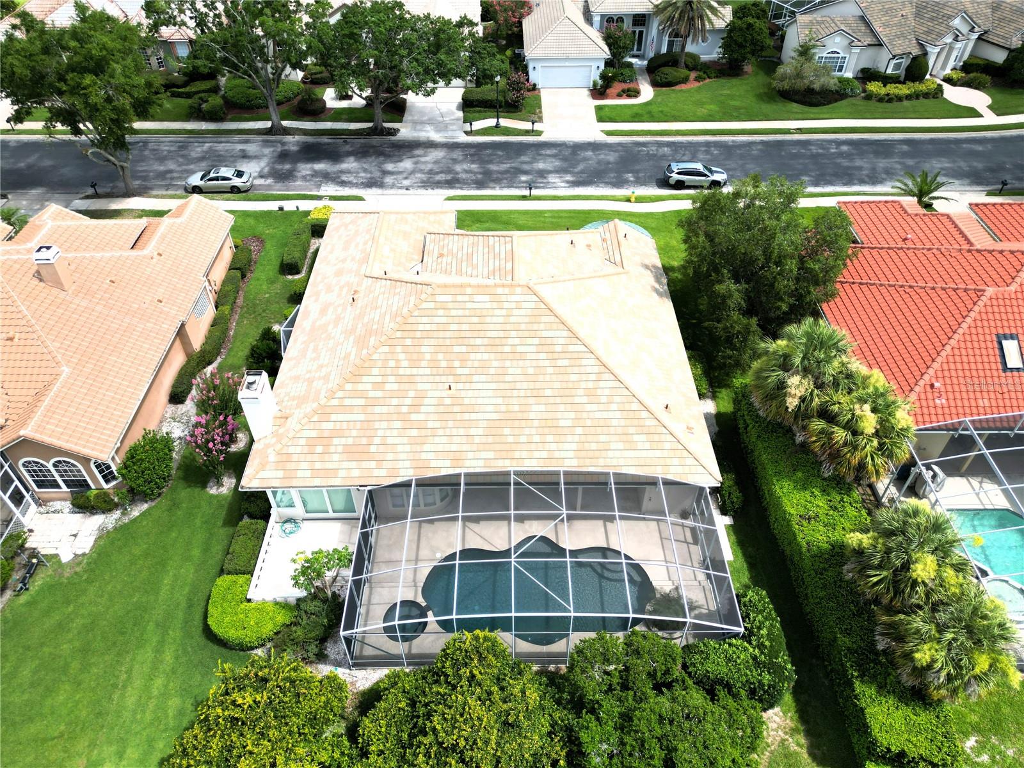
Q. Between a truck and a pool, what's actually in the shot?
pool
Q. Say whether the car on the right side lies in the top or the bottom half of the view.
top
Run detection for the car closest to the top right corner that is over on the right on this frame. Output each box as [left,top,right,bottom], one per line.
[661,158,729,189]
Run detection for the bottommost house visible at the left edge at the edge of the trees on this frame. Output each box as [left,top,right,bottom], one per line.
[0,196,239,496]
